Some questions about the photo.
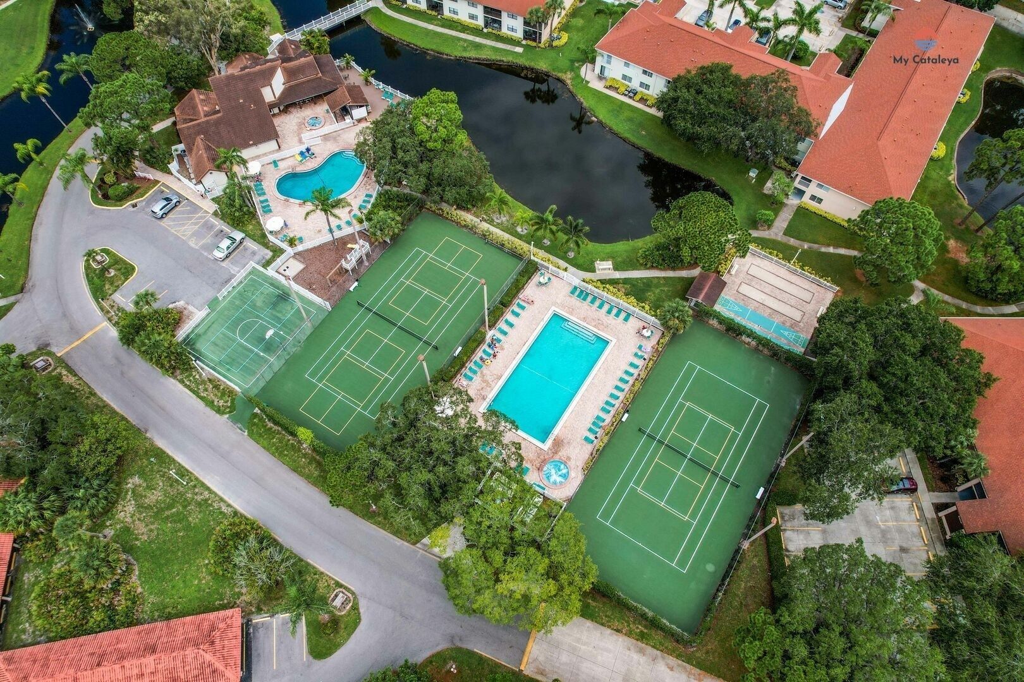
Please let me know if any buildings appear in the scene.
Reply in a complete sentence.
Yes, there is a building in the image.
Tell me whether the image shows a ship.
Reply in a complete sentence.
No, the scene contains no ship.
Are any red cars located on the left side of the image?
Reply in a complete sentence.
No, looking on the left side of the image, there is no red car.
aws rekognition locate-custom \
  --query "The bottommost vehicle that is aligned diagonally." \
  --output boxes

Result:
[209,228,245,259]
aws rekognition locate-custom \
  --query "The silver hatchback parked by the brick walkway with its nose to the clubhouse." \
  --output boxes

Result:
[148,191,179,216]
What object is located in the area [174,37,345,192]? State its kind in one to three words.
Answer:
building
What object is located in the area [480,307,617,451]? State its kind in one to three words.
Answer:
swimming pool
